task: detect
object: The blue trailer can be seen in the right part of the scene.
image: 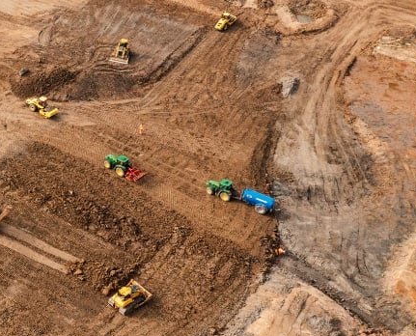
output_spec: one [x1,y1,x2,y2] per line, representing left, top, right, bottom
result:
[234,186,281,212]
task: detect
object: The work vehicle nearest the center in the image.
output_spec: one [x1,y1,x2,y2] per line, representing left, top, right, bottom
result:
[202,179,236,203]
